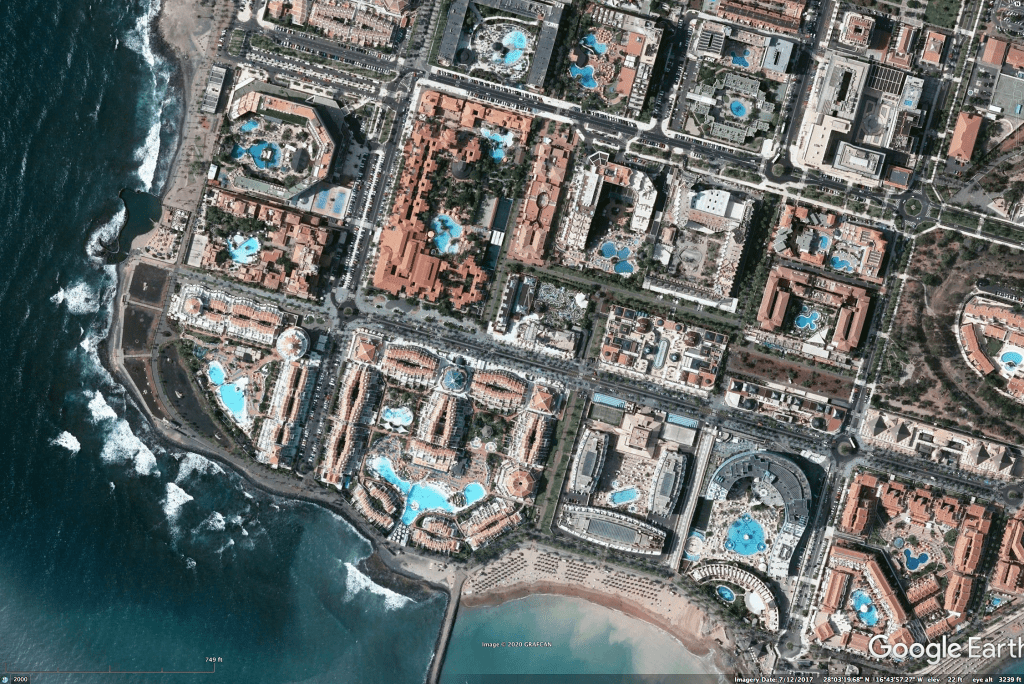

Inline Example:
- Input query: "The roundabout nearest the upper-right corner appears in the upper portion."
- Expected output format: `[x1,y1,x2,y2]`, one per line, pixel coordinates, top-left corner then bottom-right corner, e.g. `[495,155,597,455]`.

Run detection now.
[898,192,929,222]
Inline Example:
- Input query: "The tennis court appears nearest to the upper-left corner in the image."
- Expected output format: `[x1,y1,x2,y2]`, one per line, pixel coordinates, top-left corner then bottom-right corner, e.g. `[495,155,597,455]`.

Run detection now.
[185,234,208,266]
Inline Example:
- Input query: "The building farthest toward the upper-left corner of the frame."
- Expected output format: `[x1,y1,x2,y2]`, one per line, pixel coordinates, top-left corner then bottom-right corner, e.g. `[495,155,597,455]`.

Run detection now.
[201,65,229,115]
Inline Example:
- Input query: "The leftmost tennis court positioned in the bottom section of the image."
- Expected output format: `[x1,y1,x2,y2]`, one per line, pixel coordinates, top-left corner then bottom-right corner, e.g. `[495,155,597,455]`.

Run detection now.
[587,402,625,427]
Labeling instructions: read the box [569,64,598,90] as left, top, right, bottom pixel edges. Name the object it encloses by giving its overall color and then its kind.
blue swimming pool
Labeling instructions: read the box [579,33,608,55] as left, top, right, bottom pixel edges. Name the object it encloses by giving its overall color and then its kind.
blue swimming pool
